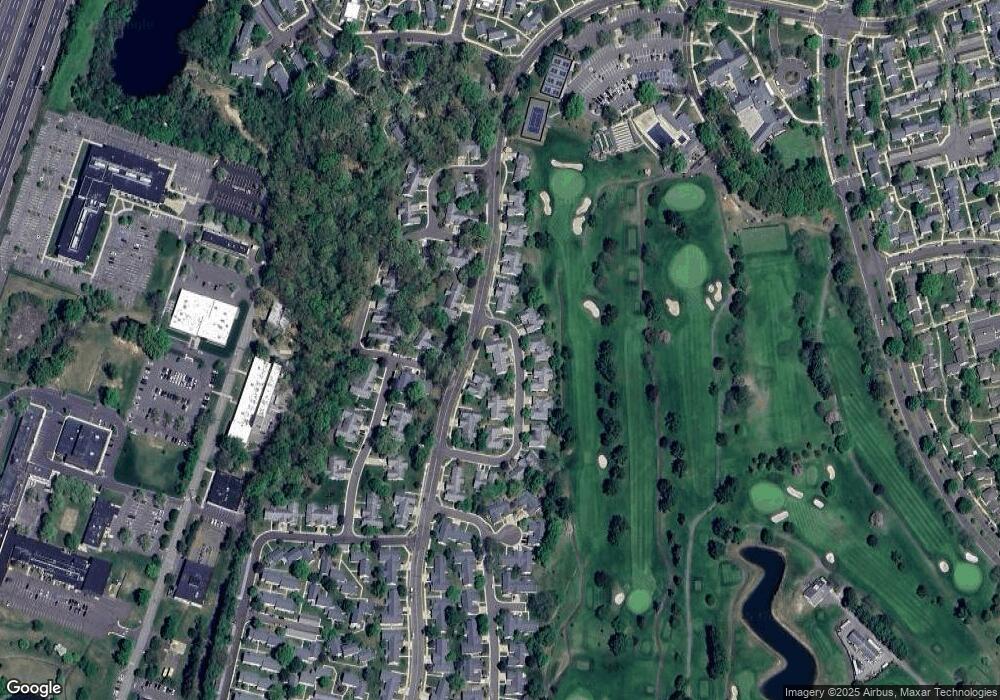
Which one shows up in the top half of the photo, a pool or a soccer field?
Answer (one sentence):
What appears in the top half of the photo is a pool.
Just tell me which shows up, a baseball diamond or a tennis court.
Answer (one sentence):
The one in the frame is a tennis court.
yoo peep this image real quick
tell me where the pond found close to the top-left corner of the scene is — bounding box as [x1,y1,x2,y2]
[112,0,205,97]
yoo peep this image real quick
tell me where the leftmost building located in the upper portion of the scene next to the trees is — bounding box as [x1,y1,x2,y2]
[58,144,175,265]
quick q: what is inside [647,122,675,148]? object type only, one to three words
swimming pool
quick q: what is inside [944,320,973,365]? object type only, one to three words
house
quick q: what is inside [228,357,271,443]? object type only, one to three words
building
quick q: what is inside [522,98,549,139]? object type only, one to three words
tennis court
